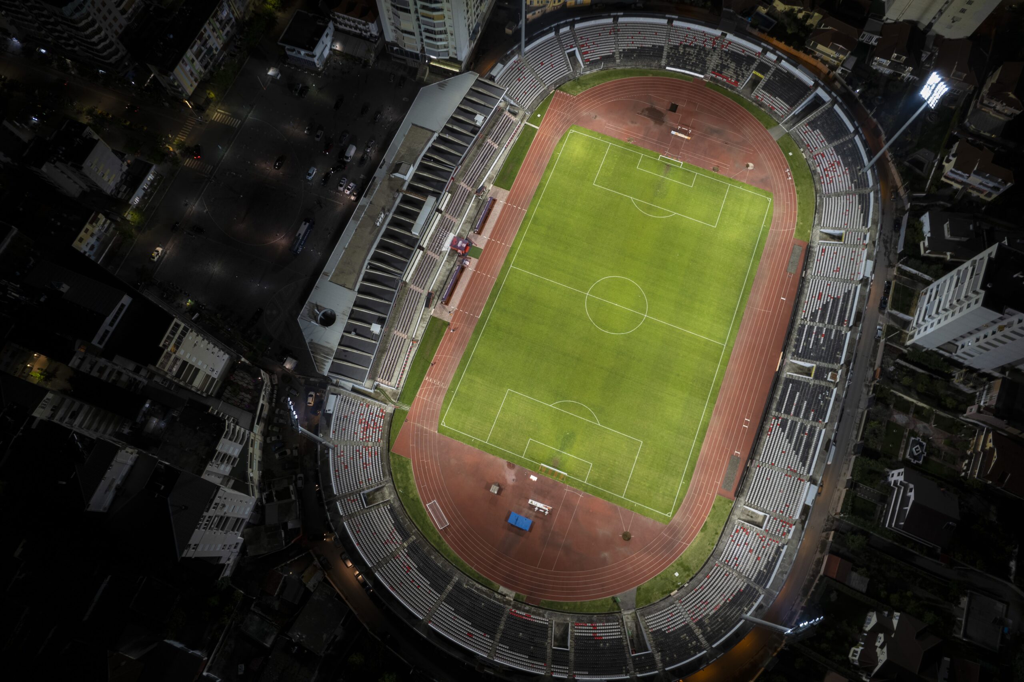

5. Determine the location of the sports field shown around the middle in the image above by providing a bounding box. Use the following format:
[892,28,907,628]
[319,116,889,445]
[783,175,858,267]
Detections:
[437,124,775,525]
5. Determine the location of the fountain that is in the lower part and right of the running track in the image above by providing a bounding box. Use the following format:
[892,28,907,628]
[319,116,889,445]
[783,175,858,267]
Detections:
[905,435,931,467]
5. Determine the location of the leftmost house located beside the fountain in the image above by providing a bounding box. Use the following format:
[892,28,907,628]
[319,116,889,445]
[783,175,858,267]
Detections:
[888,469,961,548]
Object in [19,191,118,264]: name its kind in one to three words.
house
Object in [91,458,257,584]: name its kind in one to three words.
building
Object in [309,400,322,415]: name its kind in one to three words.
vehicle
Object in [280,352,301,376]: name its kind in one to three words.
truck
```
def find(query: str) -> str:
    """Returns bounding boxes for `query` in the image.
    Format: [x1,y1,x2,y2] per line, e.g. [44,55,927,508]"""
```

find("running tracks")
[391,75,807,607]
